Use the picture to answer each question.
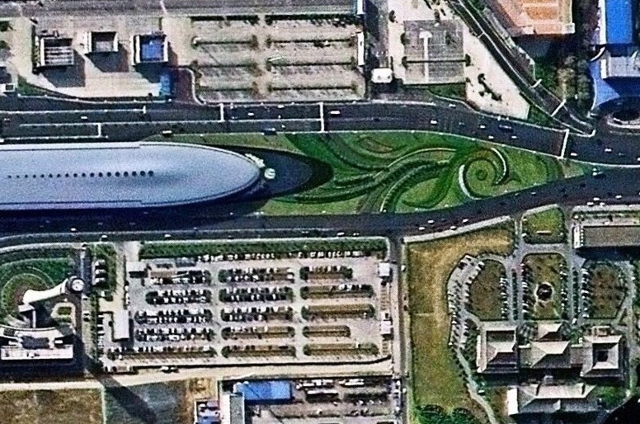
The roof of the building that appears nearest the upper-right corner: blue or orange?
blue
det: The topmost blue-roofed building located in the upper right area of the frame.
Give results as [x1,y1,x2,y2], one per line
[601,0,634,46]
